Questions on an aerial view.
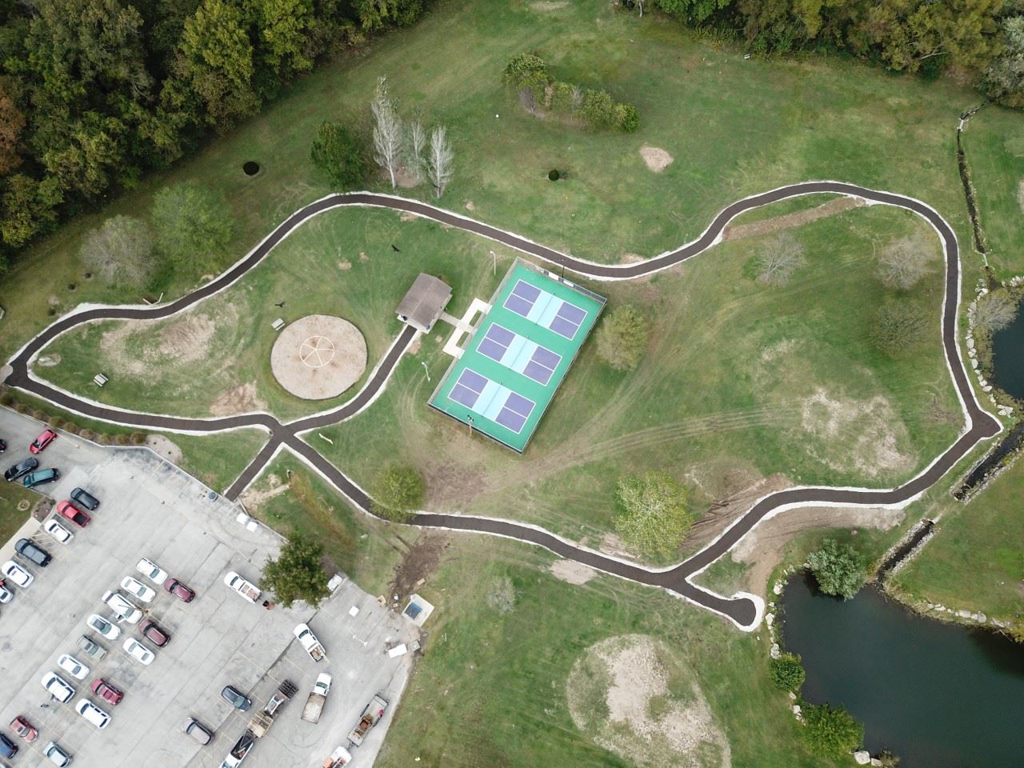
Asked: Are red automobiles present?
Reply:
Yes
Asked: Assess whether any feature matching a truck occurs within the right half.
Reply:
No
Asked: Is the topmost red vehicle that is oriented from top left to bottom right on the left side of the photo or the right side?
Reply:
left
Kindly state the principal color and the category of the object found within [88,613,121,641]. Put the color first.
white car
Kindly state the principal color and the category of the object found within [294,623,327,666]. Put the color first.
white vehicle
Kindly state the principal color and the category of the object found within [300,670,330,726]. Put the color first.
white truck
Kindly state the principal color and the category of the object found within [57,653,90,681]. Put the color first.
white car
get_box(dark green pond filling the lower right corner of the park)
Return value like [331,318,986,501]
[780,573,1024,768]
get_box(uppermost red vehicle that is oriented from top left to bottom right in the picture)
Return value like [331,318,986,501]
[56,501,90,529]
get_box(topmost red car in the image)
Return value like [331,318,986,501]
[30,427,58,457]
